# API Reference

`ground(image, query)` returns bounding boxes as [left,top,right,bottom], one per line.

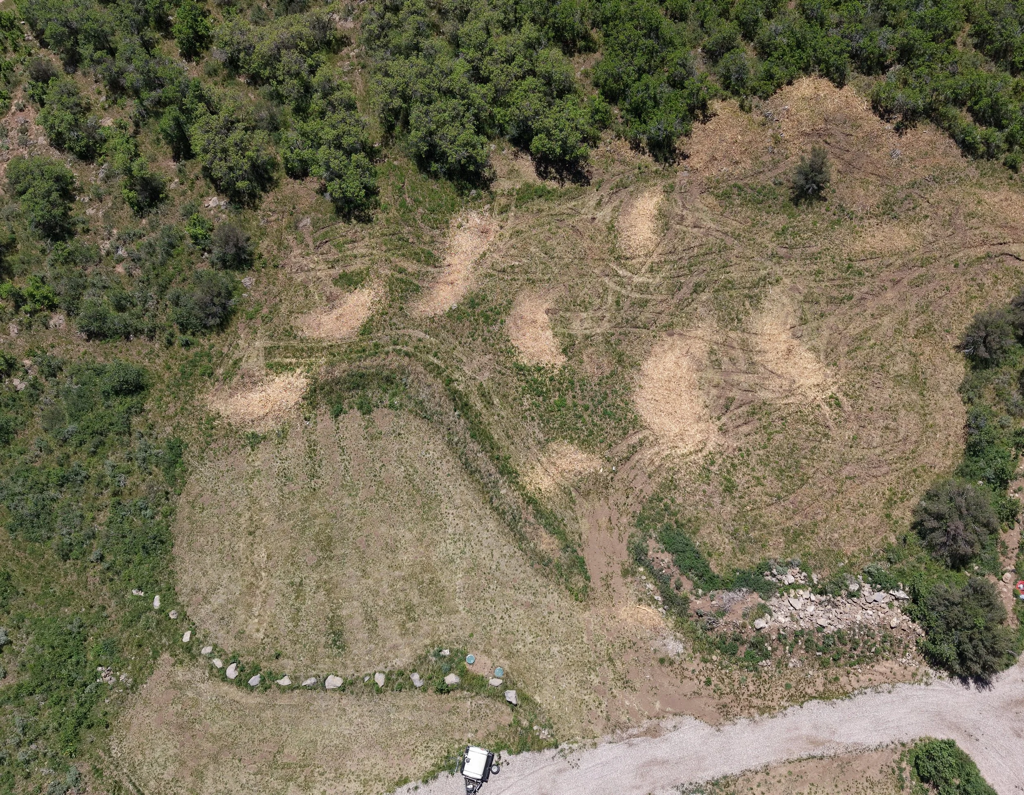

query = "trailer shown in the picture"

[458,738,496,795]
